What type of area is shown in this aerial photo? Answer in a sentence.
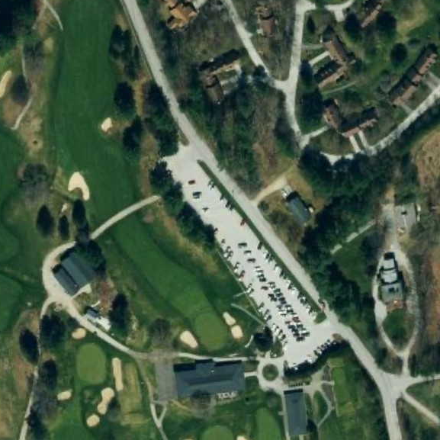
It's a golf course.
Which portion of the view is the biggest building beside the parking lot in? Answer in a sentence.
You can find the biggest building beside the parking lot in the bottom area of the picture.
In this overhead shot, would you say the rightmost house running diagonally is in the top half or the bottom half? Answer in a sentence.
The rightmost house running diagonally sits in the top half of the picture.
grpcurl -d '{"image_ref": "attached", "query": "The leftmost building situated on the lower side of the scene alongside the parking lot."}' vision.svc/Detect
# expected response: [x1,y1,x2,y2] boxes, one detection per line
[173,357,247,399]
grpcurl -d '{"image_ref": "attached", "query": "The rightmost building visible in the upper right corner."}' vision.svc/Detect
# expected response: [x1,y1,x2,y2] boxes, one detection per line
[386,45,440,105]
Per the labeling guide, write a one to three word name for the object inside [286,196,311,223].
house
